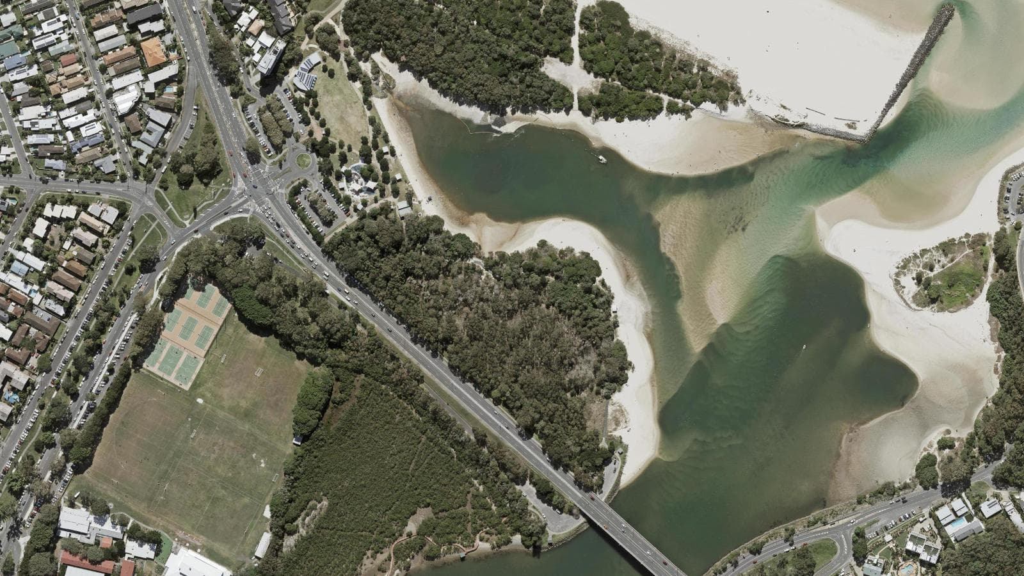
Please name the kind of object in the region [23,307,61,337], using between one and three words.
house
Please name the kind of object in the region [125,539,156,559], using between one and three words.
building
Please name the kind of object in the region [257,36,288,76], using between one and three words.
building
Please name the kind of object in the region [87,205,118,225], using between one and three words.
house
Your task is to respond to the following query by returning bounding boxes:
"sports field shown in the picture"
[63,307,307,571]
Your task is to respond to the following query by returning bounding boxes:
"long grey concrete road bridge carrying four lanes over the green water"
[578,494,689,576]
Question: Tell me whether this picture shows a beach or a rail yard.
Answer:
beach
